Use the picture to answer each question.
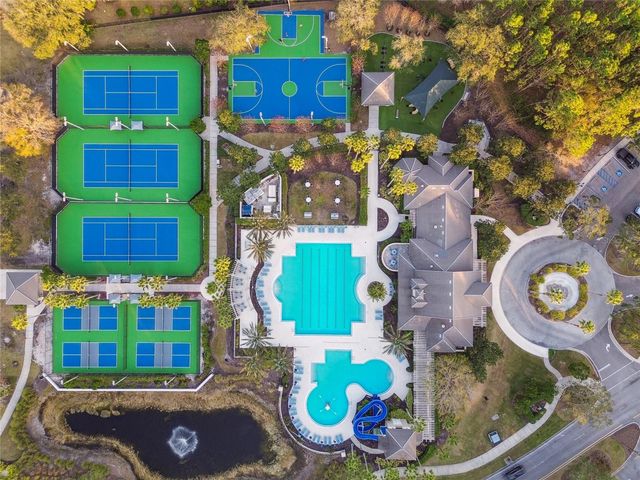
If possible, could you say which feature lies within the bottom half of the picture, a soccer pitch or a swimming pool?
swimming pool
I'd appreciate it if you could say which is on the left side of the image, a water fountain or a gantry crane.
water fountain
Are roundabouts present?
Yes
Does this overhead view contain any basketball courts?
Yes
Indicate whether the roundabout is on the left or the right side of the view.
right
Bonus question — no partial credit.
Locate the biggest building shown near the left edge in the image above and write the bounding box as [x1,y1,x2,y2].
[6,272,46,305]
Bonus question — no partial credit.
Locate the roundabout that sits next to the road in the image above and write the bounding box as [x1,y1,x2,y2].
[501,234,615,348]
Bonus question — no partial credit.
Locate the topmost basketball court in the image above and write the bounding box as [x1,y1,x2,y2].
[258,9,351,55]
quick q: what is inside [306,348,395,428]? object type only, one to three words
swimming pool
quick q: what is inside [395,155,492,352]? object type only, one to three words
building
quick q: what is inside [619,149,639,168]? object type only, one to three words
car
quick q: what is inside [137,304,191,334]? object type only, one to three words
sports court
